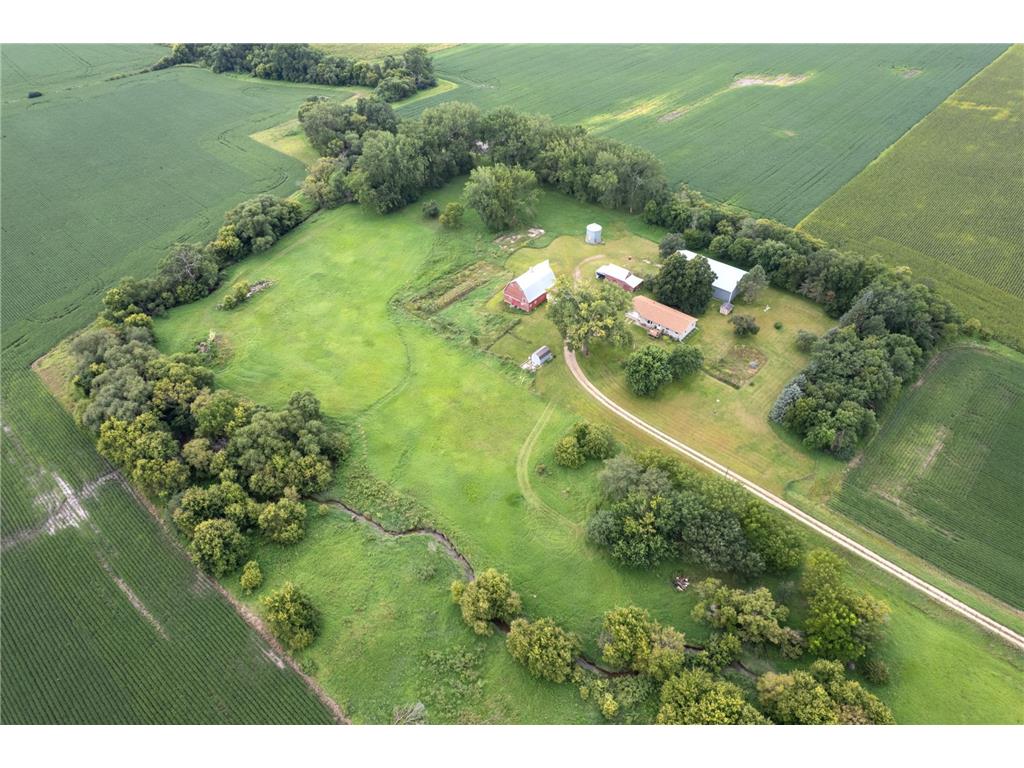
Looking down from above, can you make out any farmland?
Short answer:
Yes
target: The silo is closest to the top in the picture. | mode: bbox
[585,219,605,243]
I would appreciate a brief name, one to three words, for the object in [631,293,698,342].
house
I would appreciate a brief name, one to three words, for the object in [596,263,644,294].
shed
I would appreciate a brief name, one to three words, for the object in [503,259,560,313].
barn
